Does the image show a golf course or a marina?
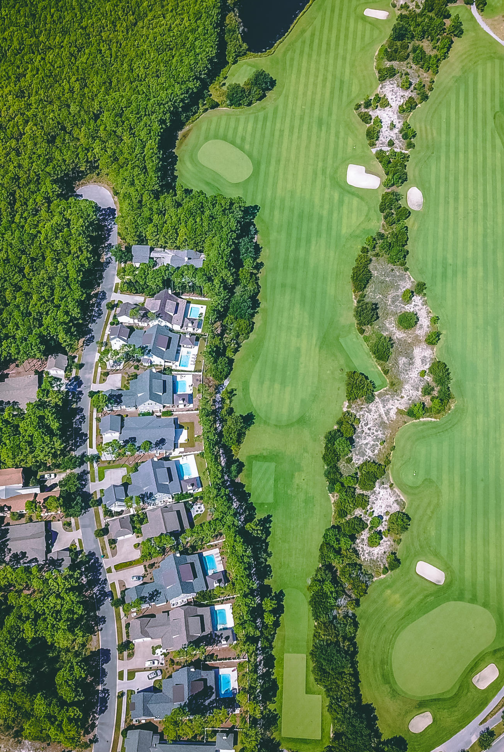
golf course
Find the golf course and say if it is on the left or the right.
right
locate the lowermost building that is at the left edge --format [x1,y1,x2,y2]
[3,518,72,573]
